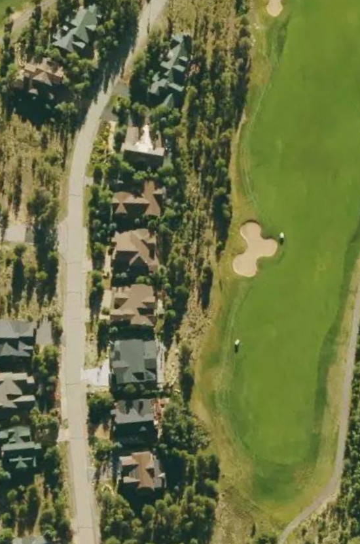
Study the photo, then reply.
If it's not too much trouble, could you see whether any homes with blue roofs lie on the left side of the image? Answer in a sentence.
No, no home with a blue roof can be made out on the left side of the image.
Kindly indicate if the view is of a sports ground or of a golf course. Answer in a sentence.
What you see here is a golf course.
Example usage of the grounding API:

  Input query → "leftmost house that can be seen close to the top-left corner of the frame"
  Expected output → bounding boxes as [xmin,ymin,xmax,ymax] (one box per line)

[19,59,66,93]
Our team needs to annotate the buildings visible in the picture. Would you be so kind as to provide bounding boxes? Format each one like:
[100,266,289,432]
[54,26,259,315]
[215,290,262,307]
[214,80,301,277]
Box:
[107,227,162,274]
[0,320,35,360]
[0,369,36,411]
[3,535,48,544]
[19,59,66,93]
[109,284,165,328]
[120,125,167,170]
[114,397,163,443]
[0,425,43,469]
[109,339,165,384]
[51,1,100,54]
[119,450,165,489]
[111,179,168,217]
